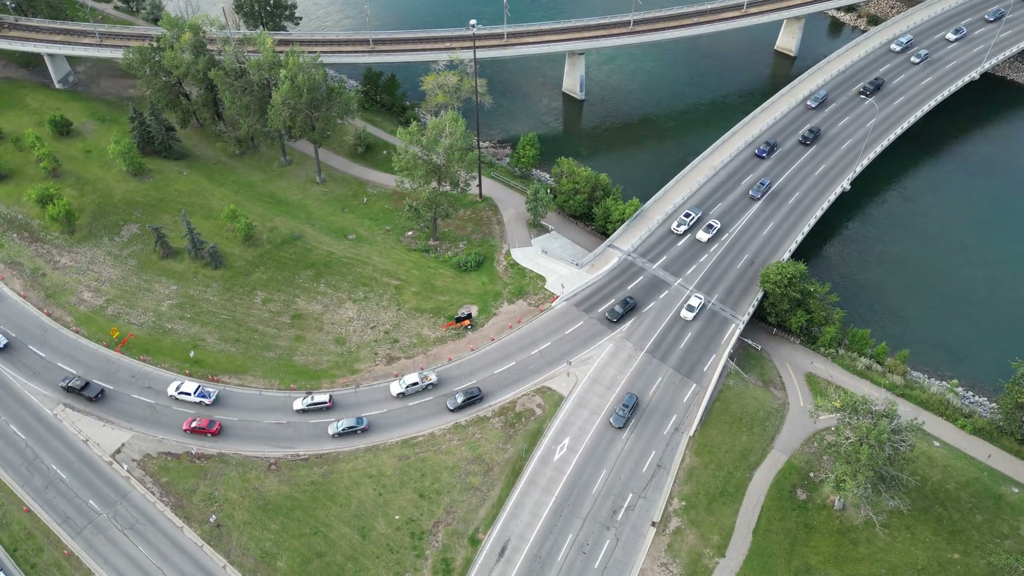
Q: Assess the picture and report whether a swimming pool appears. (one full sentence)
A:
No, no swimming pool can be seen from above.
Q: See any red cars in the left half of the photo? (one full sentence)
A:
Yes, a red car can be seen in the left half of the photo.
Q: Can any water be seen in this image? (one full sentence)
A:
Yes, there is water in the image.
